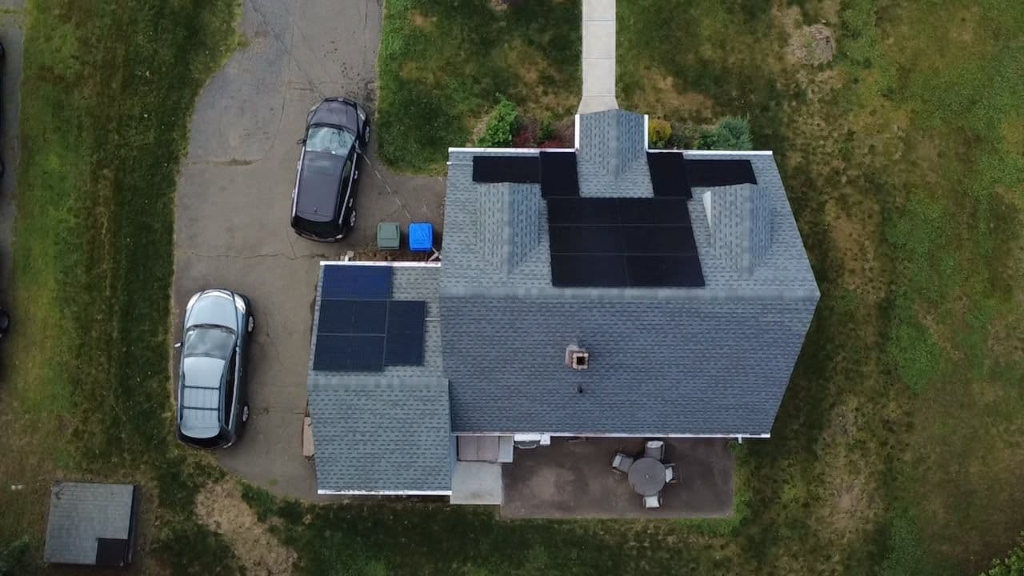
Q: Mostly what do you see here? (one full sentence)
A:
The scene is dominated by grass.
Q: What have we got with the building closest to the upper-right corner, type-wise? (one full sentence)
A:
Looking closely, the building closest to the upper-right corner is a residential house.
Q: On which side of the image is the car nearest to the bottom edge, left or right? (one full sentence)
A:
The car nearest to the bottom edge appears in the left half of the scene.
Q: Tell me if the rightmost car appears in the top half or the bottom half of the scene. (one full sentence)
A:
The rightmost car sits in the top half of the picture.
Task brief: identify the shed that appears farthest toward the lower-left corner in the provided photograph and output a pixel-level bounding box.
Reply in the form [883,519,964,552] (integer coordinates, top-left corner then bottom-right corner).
[44,482,139,565]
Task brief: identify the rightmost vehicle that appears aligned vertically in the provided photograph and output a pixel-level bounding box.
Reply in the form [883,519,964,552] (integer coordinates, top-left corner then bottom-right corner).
[287,95,369,244]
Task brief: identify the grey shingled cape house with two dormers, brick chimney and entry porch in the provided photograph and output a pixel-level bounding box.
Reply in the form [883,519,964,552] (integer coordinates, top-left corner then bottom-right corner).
[439,110,820,445]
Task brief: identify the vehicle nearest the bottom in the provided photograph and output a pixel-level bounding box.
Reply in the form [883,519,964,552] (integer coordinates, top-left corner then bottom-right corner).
[172,289,255,452]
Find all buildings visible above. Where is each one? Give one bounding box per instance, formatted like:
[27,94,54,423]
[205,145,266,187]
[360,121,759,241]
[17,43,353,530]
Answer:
[44,482,139,565]
[439,110,820,445]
